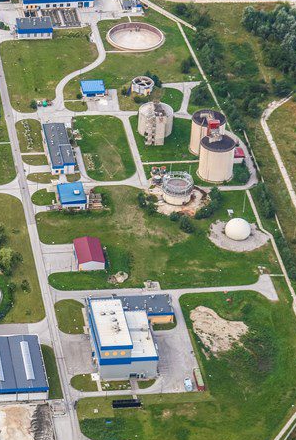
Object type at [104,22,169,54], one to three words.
storage tank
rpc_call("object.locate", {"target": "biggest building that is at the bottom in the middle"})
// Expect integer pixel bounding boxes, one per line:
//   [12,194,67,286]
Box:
[80,286,175,389]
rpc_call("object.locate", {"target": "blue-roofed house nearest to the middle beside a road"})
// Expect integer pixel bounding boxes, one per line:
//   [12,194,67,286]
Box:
[55,183,88,214]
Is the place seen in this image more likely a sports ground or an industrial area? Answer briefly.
industrial area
